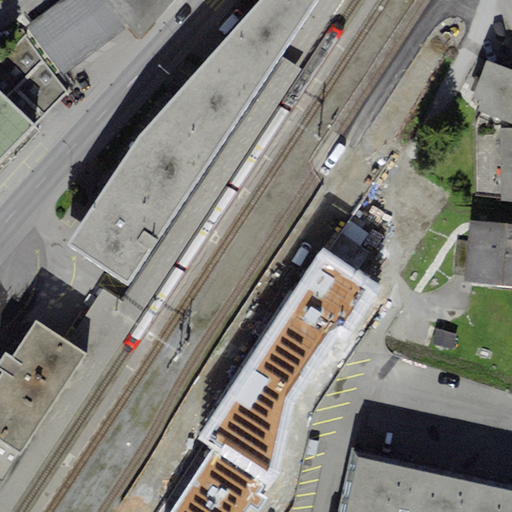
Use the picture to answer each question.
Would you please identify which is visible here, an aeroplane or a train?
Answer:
train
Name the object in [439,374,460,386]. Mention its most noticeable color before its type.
black vehicle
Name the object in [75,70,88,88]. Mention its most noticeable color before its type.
black vehicle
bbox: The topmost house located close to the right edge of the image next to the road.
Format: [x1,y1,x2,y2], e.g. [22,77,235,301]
[471,61,512,132]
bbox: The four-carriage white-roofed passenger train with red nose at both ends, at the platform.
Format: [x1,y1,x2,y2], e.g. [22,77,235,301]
[128,24,343,344]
